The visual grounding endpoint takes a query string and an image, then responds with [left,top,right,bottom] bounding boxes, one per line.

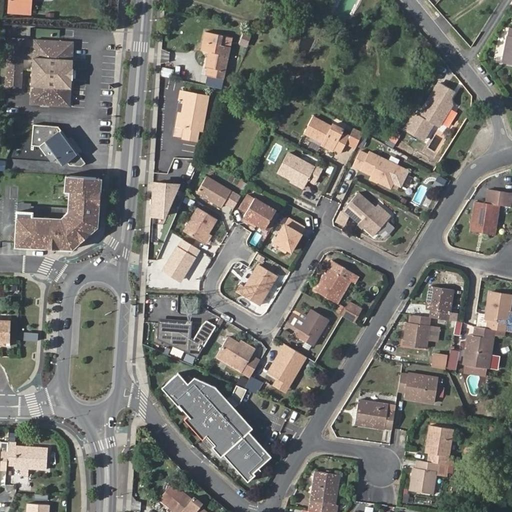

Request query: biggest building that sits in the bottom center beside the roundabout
[161,372,272,483]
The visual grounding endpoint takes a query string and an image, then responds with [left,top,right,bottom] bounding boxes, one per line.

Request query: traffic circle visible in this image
[68,281,119,404]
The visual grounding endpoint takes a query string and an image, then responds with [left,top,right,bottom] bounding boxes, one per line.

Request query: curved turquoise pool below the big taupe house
[466,376,482,397]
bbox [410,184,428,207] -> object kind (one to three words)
swimming pool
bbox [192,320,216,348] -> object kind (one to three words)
building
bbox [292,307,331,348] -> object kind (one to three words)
house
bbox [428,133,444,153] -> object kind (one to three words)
swimming pool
